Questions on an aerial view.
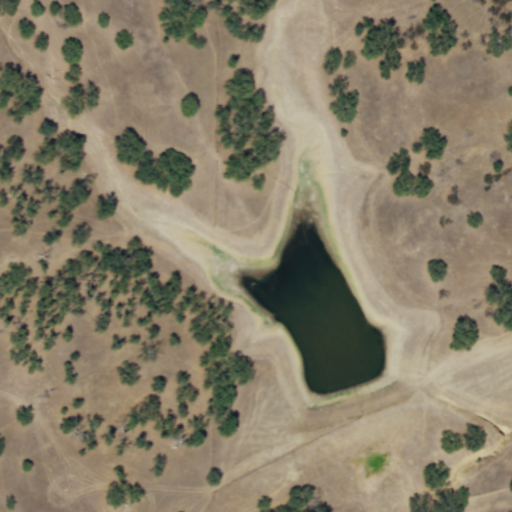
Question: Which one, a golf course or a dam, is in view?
dam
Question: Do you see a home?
No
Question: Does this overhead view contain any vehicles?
No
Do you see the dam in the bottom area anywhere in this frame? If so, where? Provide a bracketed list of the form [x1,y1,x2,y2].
[274,370,419,474]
